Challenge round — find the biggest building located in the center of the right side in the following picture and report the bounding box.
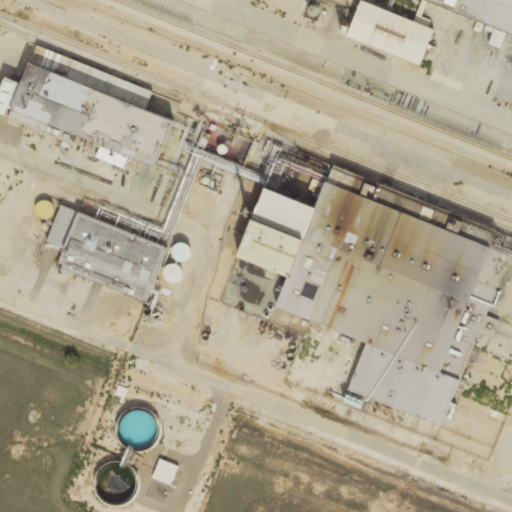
[277,182,494,426]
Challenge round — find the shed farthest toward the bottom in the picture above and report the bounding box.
[152,459,179,485]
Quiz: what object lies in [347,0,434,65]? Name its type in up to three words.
building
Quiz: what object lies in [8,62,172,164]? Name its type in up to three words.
building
